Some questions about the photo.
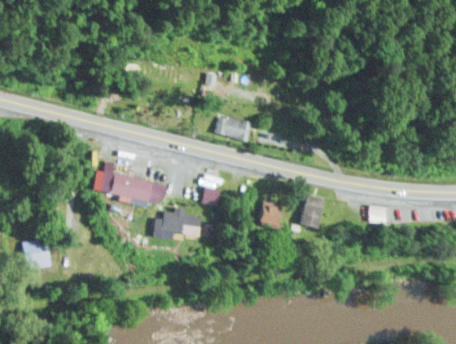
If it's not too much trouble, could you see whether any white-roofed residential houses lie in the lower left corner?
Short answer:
Yes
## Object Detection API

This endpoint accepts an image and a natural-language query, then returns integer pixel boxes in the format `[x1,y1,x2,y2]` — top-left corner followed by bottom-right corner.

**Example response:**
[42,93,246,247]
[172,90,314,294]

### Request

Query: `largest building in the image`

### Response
[93,162,166,208]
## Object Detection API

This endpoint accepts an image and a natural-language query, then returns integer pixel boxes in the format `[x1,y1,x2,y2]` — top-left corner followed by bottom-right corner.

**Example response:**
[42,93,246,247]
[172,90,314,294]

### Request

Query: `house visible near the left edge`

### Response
[22,241,54,273]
